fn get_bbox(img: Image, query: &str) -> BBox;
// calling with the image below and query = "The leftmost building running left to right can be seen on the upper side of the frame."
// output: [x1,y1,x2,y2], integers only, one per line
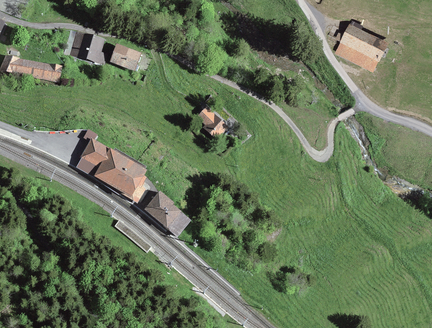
[0,53,64,82]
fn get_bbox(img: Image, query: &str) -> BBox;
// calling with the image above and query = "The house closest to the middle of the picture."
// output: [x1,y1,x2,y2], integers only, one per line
[198,104,229,136]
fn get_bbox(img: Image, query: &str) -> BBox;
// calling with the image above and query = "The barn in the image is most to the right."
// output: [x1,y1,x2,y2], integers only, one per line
[334,19,388,73]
